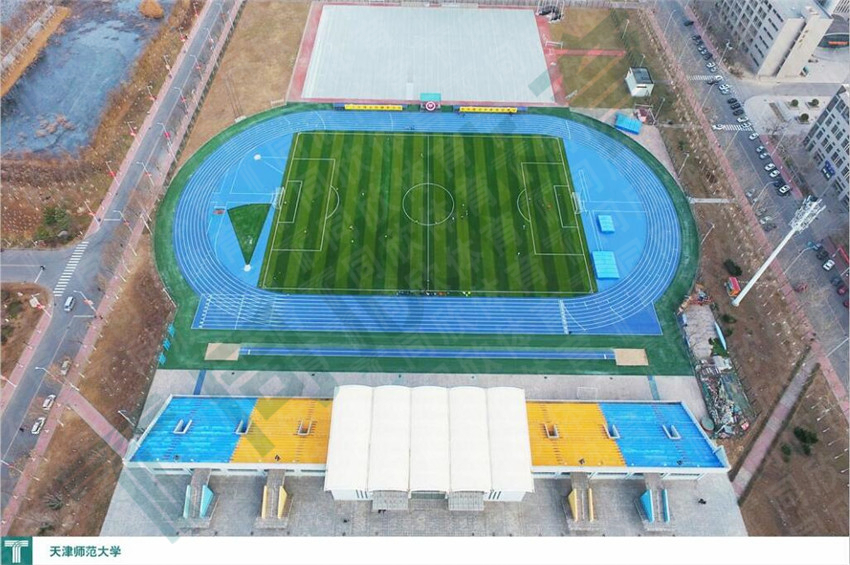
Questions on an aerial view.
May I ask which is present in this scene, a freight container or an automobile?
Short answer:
automobile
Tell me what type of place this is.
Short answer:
sports ground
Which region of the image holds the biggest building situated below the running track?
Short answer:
bottom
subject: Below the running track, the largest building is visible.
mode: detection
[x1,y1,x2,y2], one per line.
[325,385,532,518]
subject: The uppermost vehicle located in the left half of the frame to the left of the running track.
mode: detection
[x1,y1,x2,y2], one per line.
[61,295,77,313]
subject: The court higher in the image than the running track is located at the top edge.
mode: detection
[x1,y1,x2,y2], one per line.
[285,3,566,105]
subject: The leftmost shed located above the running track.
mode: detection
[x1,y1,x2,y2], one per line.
[628,70,656,96]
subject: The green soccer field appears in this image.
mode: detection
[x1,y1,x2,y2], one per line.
[258,131,598,298]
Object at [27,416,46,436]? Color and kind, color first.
white car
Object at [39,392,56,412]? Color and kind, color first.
white car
